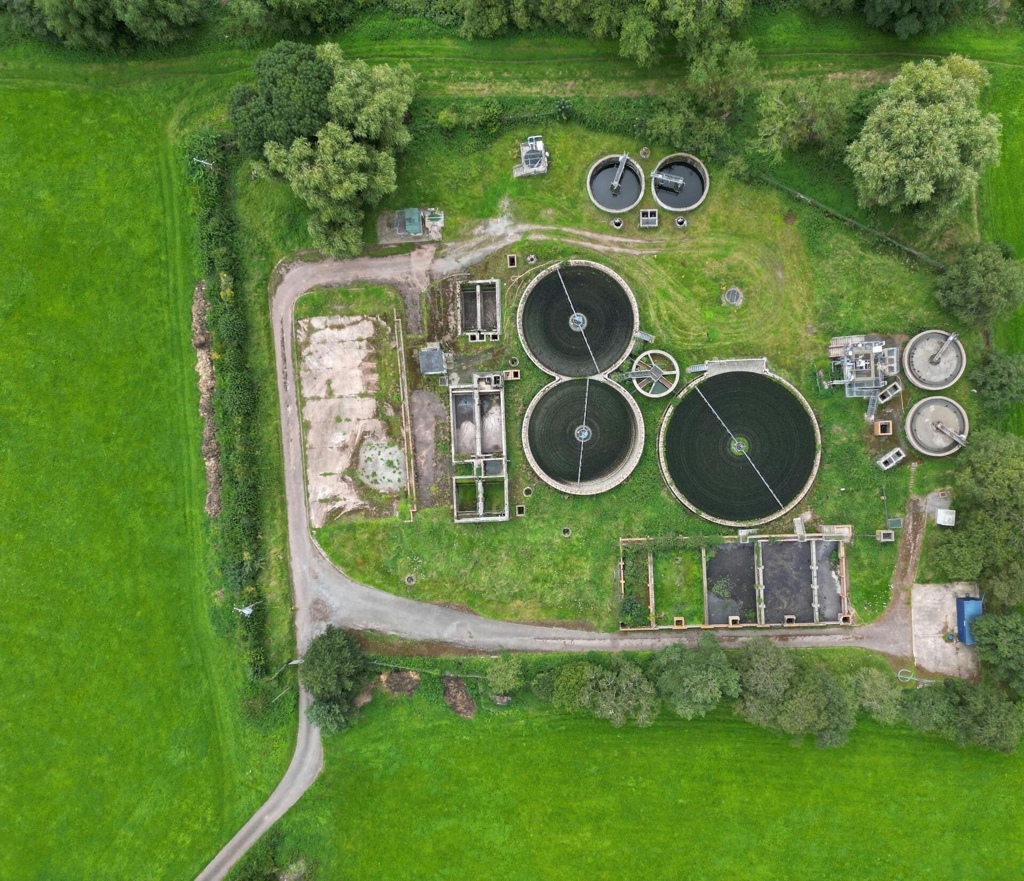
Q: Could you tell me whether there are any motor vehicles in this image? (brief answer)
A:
No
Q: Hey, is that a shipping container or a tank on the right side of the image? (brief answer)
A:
tank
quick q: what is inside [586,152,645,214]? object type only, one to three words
storage tank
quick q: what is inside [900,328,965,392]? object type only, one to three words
storage tank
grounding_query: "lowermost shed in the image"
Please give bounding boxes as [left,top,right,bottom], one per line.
[951,593,986,644]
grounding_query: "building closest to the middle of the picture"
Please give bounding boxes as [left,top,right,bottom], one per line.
[420,350,448,375]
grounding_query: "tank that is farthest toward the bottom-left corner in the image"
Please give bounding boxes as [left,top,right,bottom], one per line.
[449,372,512,523]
